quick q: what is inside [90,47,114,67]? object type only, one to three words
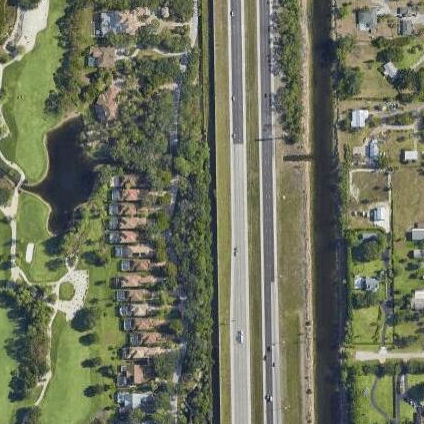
house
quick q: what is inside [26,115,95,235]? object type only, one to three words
pond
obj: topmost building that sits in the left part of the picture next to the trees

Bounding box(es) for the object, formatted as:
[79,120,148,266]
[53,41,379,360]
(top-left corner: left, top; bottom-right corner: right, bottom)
[123,10,148,33]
